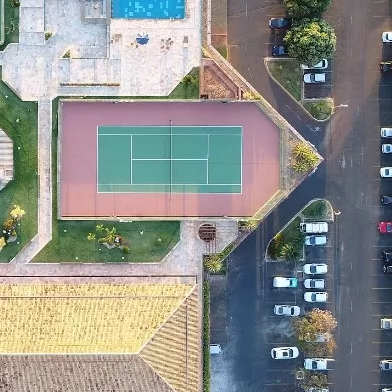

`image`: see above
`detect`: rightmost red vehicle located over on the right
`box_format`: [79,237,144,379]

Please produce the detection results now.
[378,221,392,234]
